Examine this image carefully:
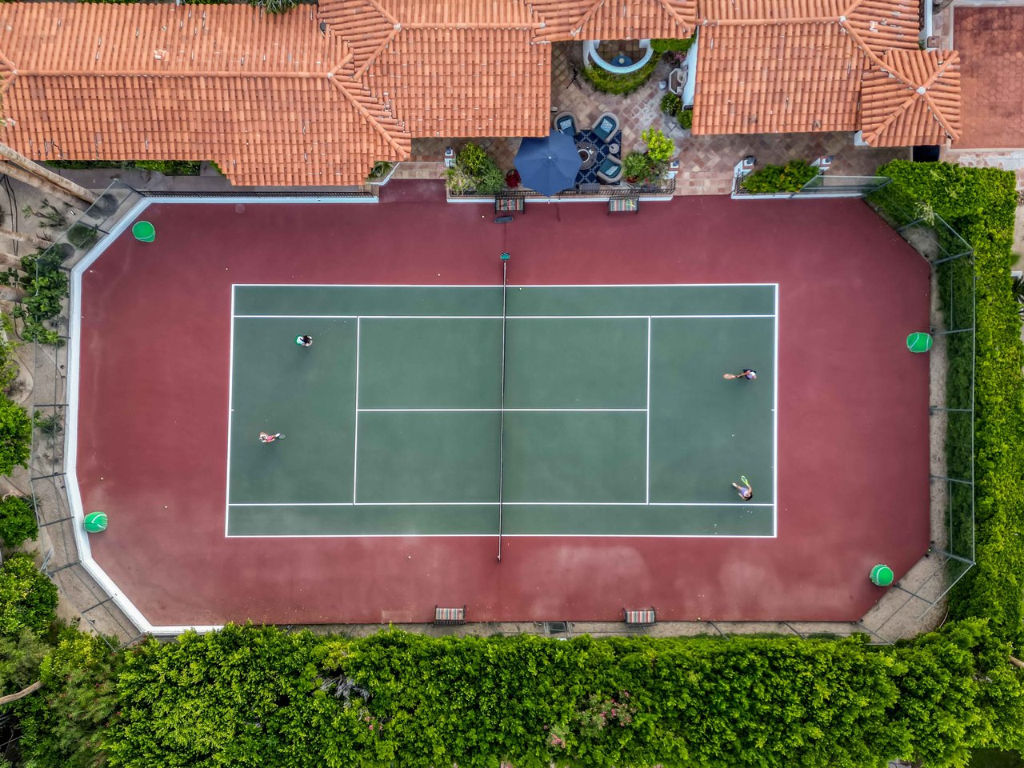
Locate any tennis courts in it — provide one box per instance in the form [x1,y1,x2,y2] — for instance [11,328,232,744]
[76,180,932,626]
